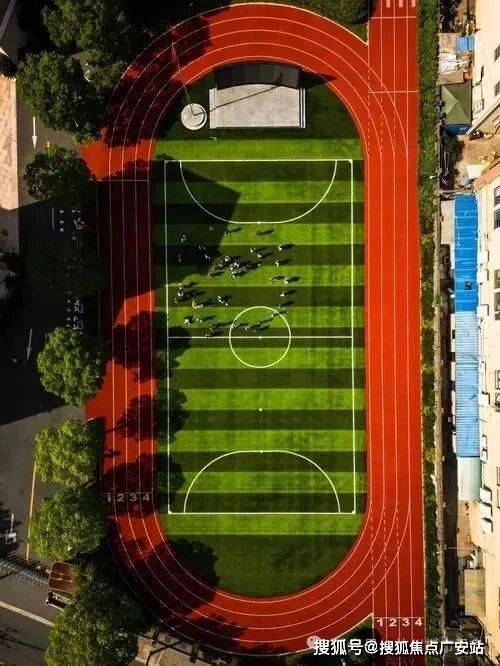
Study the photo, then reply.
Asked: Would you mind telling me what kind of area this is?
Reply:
sports ground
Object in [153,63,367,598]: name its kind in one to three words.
soccer field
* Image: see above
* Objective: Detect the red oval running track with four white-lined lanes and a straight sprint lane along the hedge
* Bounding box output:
[81,0,426,666]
